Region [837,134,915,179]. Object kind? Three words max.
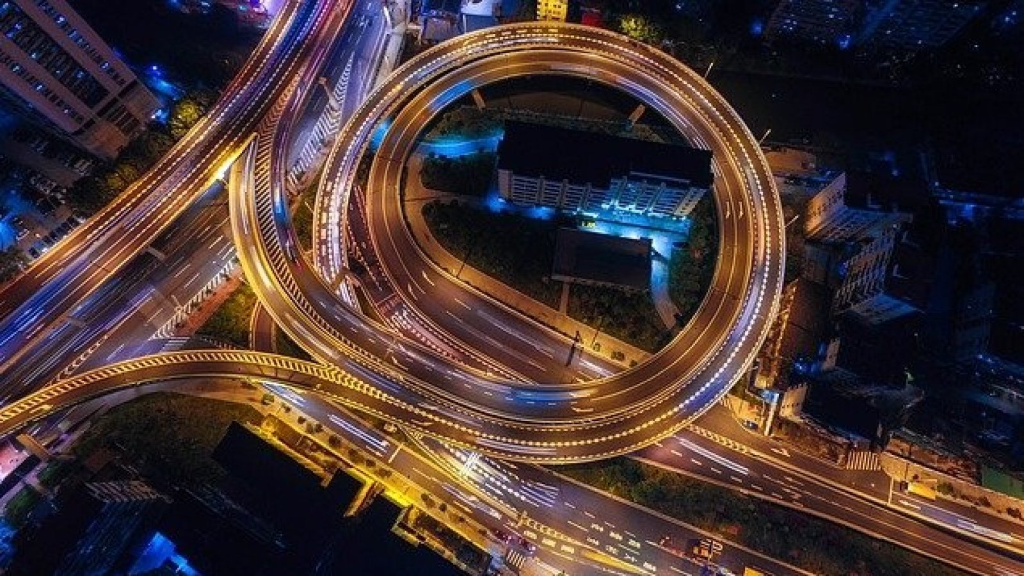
house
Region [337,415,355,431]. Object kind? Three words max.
car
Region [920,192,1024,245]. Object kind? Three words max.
building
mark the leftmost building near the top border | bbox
[0,0,162,154]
